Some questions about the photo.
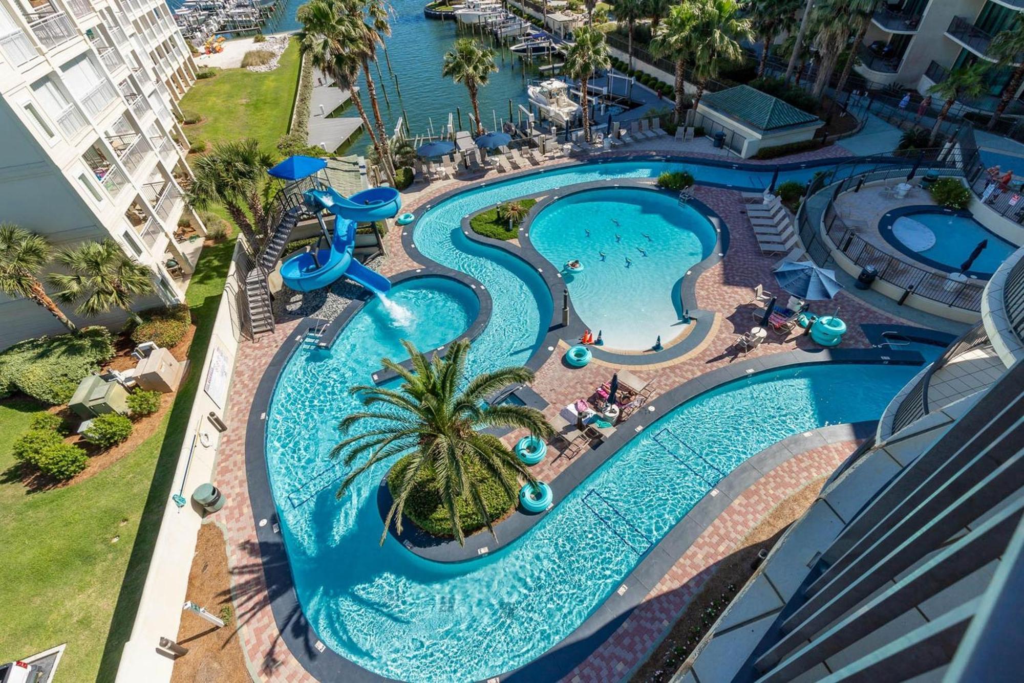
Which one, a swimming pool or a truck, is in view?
swimming pool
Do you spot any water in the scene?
Yes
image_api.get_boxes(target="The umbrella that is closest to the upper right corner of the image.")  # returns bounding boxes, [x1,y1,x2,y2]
[905,156,923,189]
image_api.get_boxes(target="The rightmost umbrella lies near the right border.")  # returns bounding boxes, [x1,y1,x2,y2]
[961,242,989,278]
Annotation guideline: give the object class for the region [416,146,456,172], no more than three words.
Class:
umbrella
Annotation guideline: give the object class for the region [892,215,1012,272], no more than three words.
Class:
swimming pool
